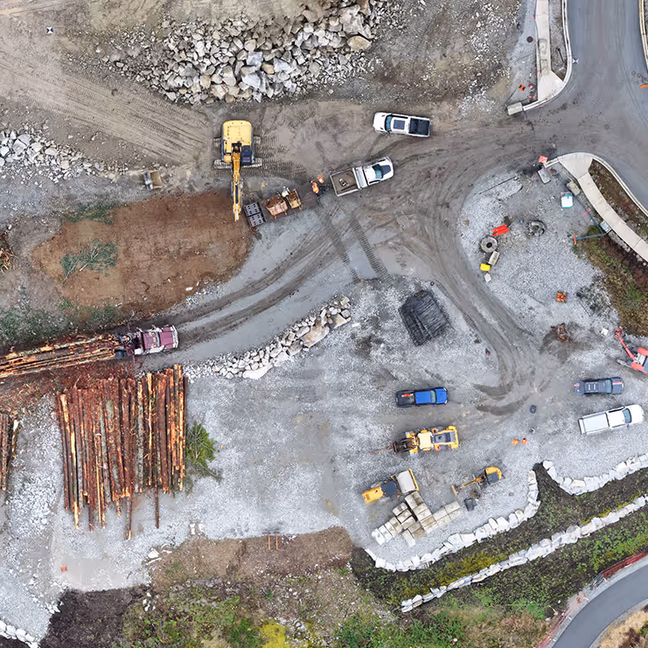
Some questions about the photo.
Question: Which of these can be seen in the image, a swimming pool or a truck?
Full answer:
Of the two, only a truck appears.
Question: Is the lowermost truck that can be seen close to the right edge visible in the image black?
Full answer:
No, the lowermost truck that can be seen close to the right edge is white.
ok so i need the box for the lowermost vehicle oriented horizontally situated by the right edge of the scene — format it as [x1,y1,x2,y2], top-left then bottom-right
[578,403,646,436]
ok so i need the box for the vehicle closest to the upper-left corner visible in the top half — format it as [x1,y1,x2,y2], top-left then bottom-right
[212,120,264,220]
